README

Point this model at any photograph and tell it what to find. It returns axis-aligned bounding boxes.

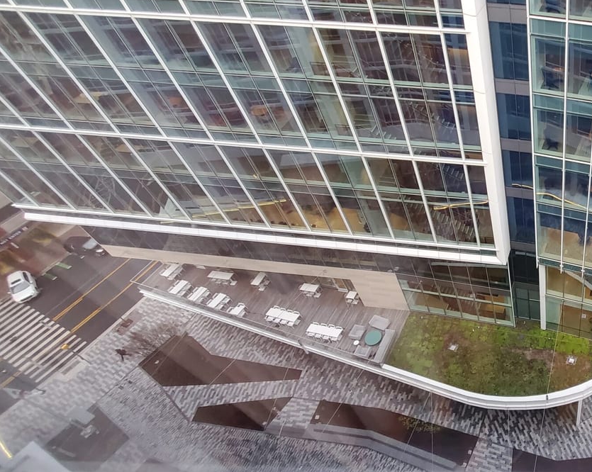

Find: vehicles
[6,270,38,306]
[70,236,103,264]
